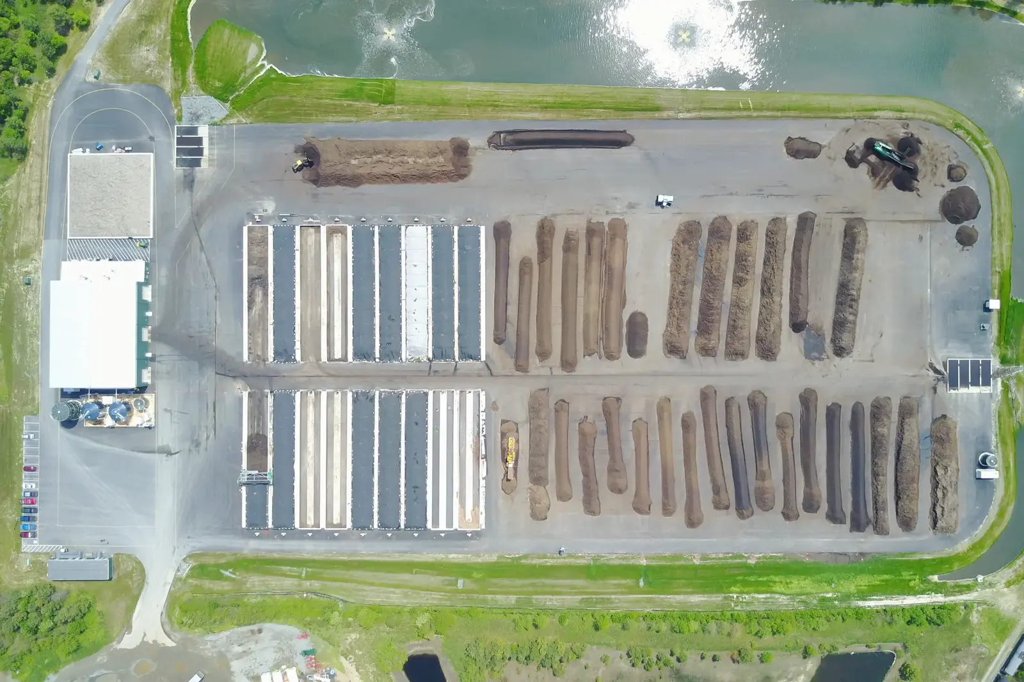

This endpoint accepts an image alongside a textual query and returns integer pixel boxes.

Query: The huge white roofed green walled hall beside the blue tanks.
[50,280,156,388]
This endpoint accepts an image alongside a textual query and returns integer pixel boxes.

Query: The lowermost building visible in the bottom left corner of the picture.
[48,551,114,580]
